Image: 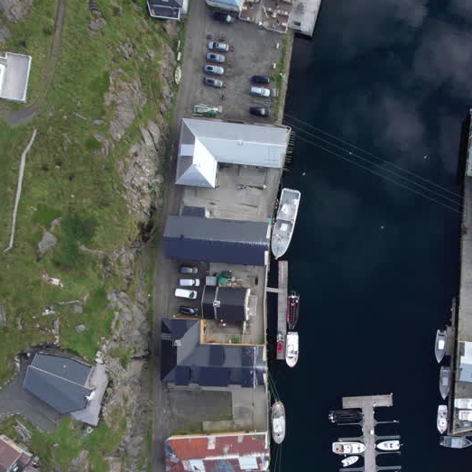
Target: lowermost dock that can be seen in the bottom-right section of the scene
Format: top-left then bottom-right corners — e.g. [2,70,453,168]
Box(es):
[336,394,403,472]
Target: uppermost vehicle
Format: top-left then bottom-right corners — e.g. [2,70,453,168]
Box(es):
[211,10,235,23]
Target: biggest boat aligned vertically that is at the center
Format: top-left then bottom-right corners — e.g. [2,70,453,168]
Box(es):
[273,186,299,257]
